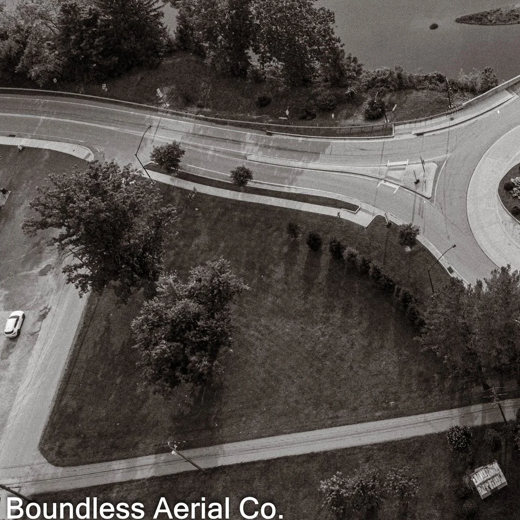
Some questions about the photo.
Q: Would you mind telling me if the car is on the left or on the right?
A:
left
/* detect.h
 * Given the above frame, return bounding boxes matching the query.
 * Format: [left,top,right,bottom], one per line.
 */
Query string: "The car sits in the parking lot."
[0,309,26,338]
